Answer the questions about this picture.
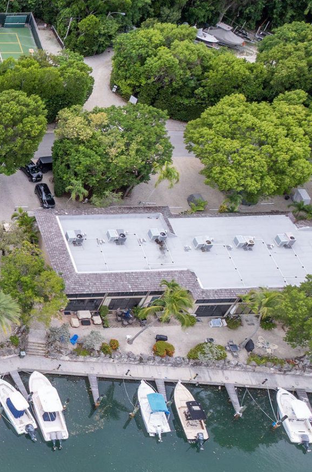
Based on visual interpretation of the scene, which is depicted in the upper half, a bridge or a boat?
boat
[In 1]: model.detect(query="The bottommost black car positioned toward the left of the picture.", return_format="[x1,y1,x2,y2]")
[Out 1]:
[33,180,56,208]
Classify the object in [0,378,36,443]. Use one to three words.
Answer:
boat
